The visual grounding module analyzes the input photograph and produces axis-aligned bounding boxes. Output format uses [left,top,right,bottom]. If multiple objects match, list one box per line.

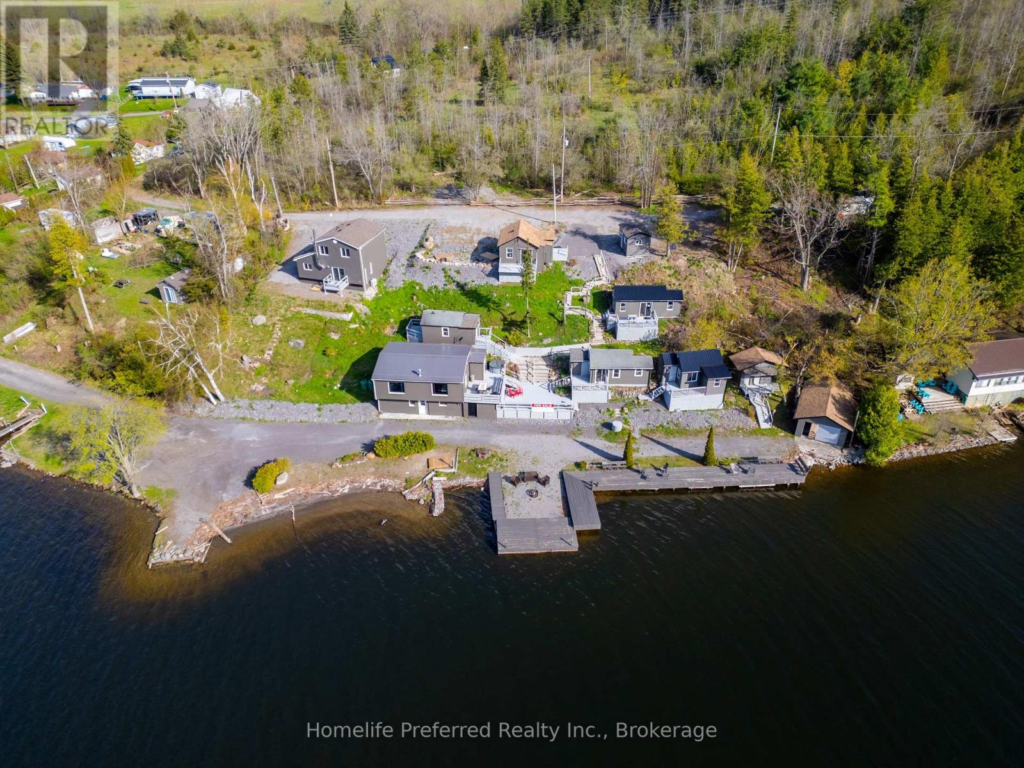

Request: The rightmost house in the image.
[934,341,1024,413]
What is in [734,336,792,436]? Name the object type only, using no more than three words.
building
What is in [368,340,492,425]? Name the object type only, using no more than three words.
house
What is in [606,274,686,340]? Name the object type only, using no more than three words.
house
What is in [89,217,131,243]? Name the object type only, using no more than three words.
shed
